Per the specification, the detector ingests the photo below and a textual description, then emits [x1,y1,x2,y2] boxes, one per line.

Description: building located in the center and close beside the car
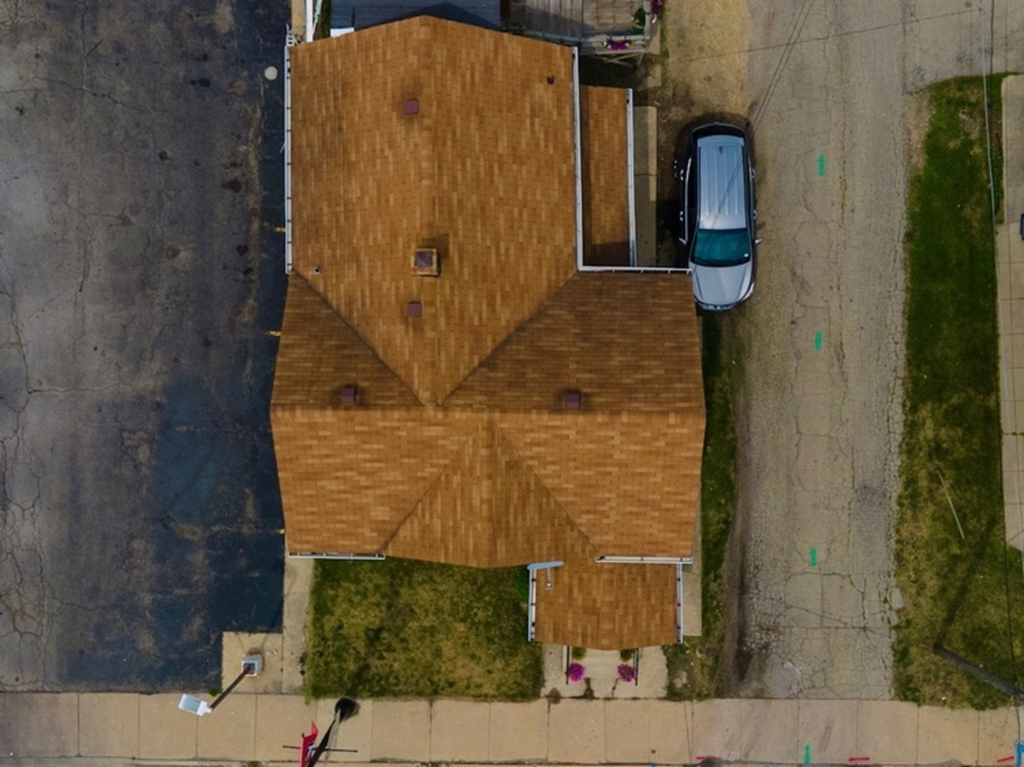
[270,16,707,650]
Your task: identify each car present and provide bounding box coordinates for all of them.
[675,119,762,314]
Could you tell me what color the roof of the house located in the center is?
orange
